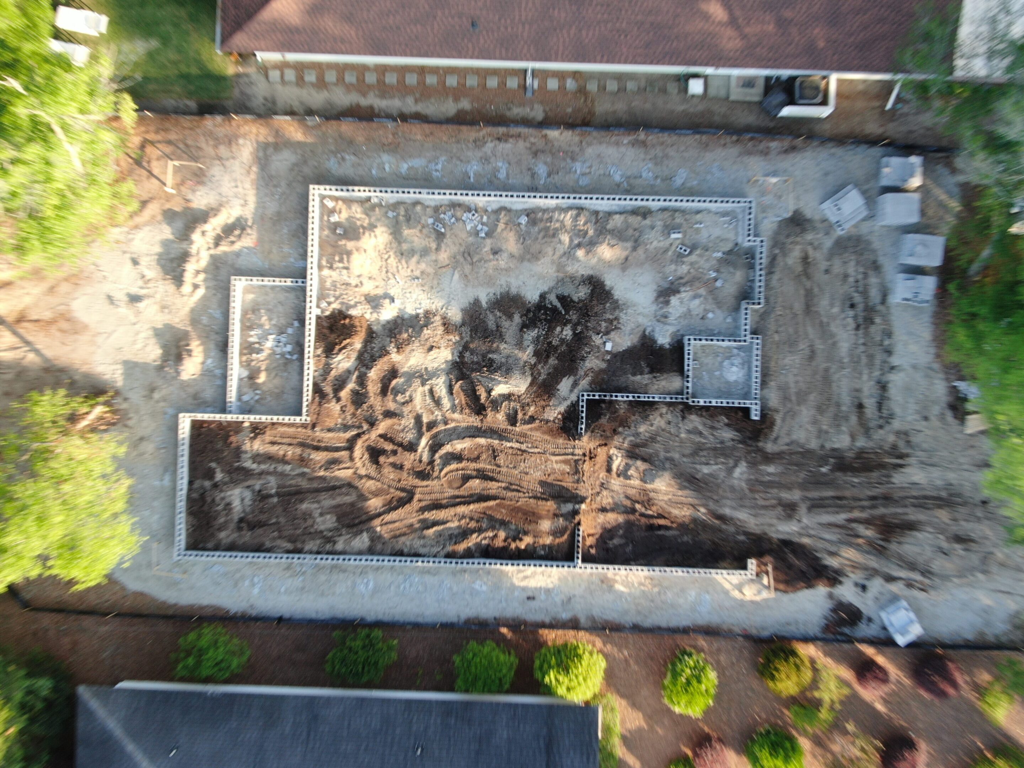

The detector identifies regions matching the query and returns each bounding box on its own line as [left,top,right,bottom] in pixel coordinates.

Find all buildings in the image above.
[214,0,976,94]
[73,683,603,768]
